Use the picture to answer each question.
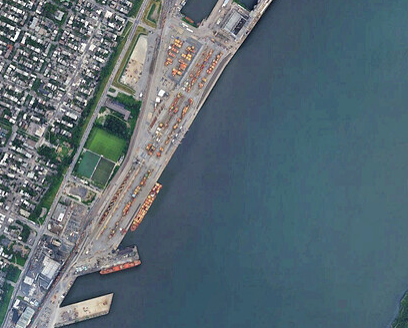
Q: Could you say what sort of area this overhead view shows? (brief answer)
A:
port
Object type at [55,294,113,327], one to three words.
pier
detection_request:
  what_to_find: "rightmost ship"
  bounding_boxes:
[132,183,162,231]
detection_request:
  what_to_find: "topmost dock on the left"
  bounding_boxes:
[77,246,140,276]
